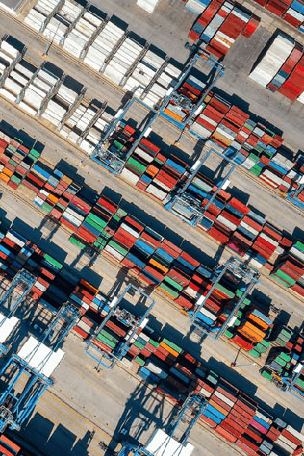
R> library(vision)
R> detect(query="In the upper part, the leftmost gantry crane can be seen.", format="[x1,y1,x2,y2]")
[92,97,157,175]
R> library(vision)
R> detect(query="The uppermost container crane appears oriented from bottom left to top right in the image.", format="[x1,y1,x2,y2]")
[156,58,220,132]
